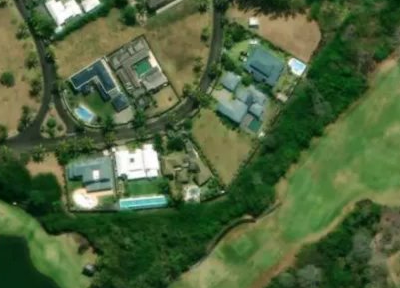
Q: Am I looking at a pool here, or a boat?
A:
pool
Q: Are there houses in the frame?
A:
Yes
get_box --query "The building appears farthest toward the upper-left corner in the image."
[45,0,81,25]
